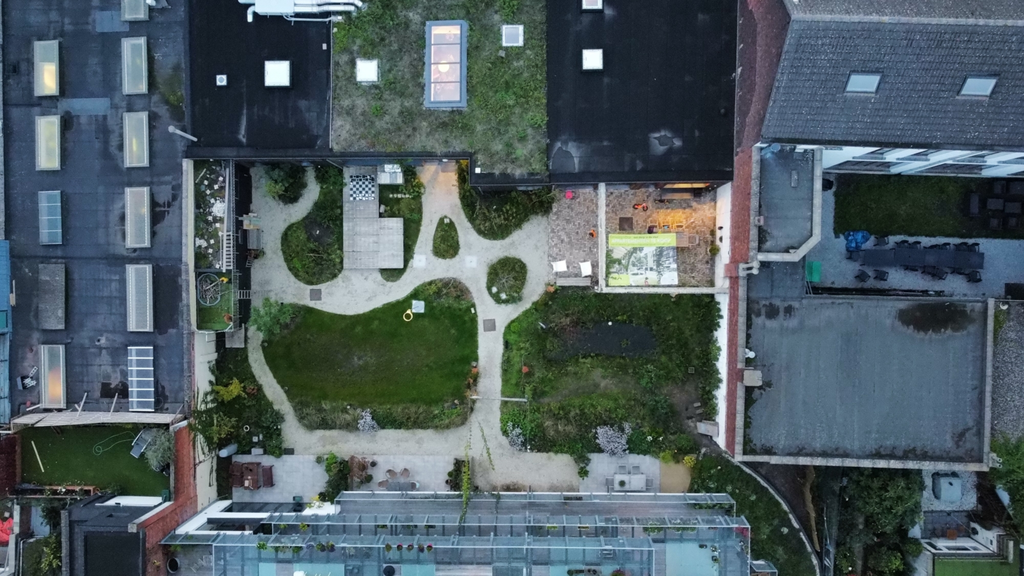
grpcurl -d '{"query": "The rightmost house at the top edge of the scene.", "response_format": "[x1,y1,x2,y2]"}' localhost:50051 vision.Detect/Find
[734,0,1024,178]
